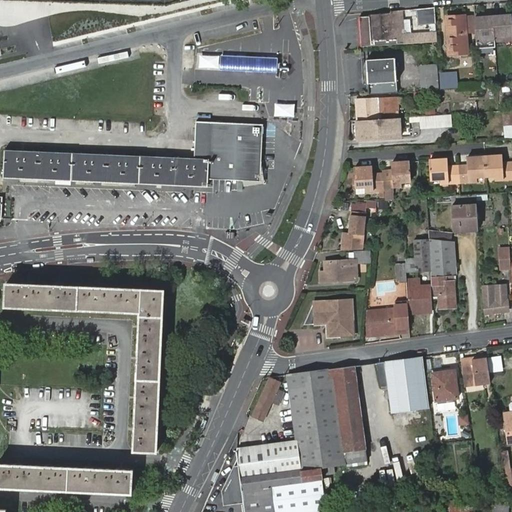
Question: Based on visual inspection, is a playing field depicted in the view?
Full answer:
No, there isn't any playing field down there.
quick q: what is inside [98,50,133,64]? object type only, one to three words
vehicle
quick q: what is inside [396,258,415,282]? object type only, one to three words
shed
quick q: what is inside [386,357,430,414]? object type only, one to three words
building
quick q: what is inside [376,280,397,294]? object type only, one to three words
swimming pool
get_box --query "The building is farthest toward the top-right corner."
[468,14,512,54]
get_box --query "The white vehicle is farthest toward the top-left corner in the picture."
[54,60,88,74]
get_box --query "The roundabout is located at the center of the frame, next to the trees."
[231,252,304,327]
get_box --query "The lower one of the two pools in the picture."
[444,412,460,438]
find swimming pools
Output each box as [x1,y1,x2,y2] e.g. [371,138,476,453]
[376,280,397,294]
[444,412,460,438]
